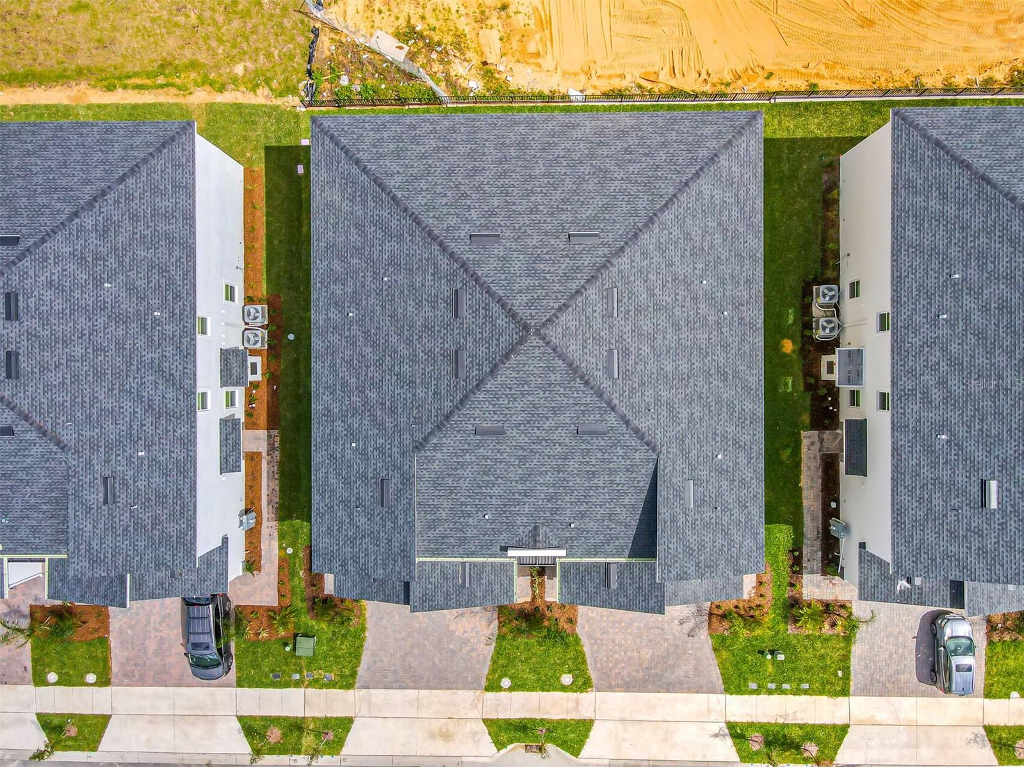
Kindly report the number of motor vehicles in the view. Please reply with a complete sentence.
The photo contains 2 motor vehicles.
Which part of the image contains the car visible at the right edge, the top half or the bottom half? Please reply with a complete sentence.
Seen from above, the car visible at the right edge lies in the bottom half of the view.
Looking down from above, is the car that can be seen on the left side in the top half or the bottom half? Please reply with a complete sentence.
The bottom half of the photo is where the car that can be seen on the left side is.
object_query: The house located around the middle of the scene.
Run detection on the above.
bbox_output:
[311,111,765,614]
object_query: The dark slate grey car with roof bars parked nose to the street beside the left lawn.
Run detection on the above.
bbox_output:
[188,595,235,682]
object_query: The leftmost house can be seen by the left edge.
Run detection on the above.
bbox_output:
[0,117,247,609]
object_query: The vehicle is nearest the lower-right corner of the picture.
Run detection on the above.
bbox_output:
[931,612,984,699]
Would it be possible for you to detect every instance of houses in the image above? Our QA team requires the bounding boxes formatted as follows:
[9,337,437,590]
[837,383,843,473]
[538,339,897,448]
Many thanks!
[836,108,1024,616]
[0,117,247,609]
[311,111,765,614]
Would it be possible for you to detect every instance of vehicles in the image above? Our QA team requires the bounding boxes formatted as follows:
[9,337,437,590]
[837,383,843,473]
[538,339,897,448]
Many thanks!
[188,595,235,682]
[931,612,984,699]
